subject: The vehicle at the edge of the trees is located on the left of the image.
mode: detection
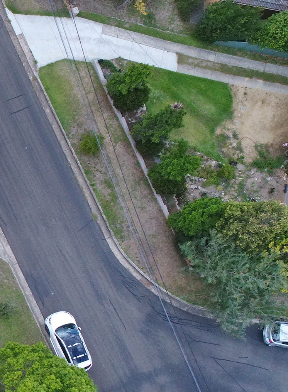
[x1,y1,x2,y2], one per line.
[47,308,100,375]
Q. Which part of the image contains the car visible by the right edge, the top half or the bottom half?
bottom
